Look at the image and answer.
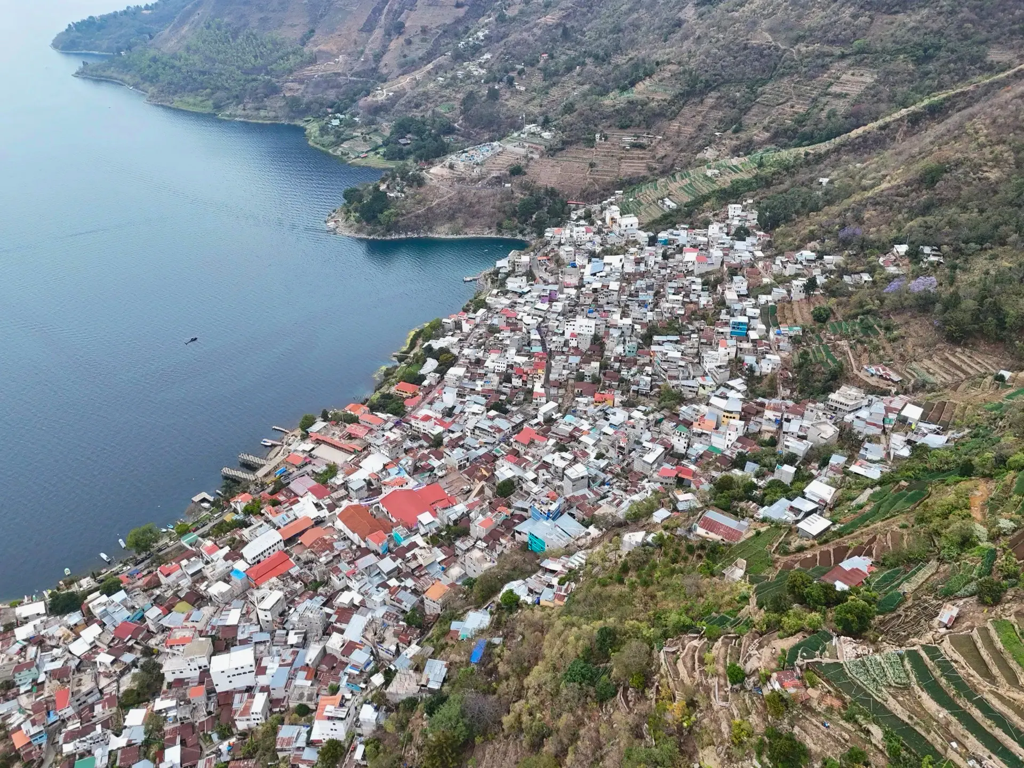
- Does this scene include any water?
Yes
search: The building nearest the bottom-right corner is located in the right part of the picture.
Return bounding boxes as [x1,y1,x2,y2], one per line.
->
[932,600,964,632]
